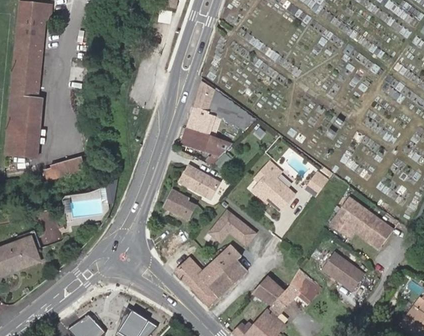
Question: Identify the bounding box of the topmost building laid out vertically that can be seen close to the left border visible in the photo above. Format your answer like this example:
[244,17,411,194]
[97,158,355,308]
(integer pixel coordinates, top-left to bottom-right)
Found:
[5,0,53,158]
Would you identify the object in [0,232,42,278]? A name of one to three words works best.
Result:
house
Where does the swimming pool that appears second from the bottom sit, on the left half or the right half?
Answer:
left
